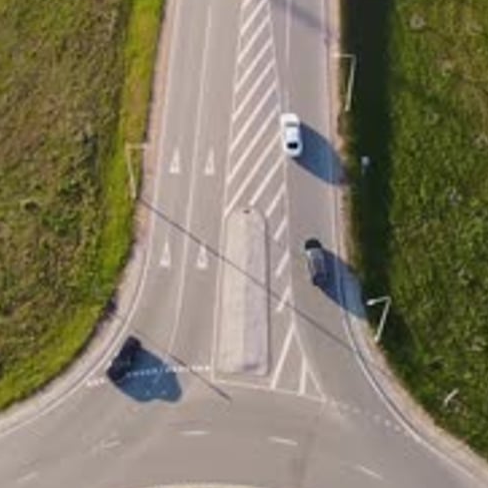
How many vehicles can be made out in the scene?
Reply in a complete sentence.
The count of vehicles comes to 3.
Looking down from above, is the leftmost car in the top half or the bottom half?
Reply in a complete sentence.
The leftmost car sits in the bottom half of the picture.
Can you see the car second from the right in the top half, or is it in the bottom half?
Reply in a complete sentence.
You can find the car second from the right in the top half.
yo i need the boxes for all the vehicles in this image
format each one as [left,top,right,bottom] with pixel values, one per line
[304,241,331,290]
[103,334,144,390]
[279,117,302,157]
